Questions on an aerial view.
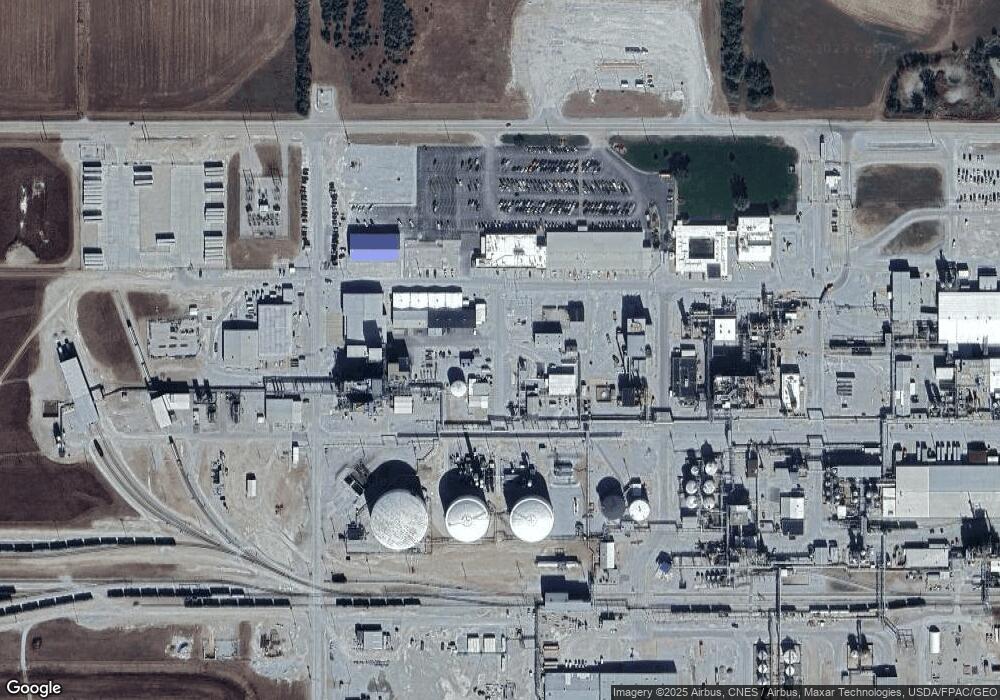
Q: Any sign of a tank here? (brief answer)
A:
Yes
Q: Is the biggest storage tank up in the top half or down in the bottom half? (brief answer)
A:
bottom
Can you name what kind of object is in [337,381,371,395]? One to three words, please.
house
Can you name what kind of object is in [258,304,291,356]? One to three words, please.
building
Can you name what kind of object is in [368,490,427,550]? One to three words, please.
storage tank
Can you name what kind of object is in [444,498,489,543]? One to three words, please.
storage tank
